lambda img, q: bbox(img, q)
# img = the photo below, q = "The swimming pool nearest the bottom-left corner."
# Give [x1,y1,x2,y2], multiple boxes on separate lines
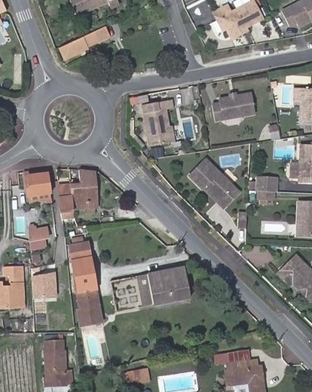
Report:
[82,324,110,365]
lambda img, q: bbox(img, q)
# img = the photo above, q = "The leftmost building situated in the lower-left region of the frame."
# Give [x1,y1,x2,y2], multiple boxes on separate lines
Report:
[0,266,26,310]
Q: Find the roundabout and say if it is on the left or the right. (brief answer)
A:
left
